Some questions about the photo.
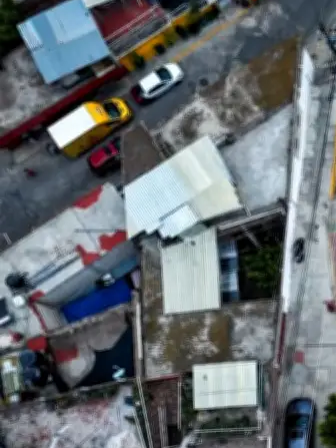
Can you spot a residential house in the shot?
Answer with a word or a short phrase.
Yes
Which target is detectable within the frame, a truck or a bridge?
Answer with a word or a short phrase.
truck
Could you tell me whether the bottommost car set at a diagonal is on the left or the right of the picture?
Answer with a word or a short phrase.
left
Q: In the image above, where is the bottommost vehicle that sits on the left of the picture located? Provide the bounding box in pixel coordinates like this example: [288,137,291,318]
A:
[78,131,131,176]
